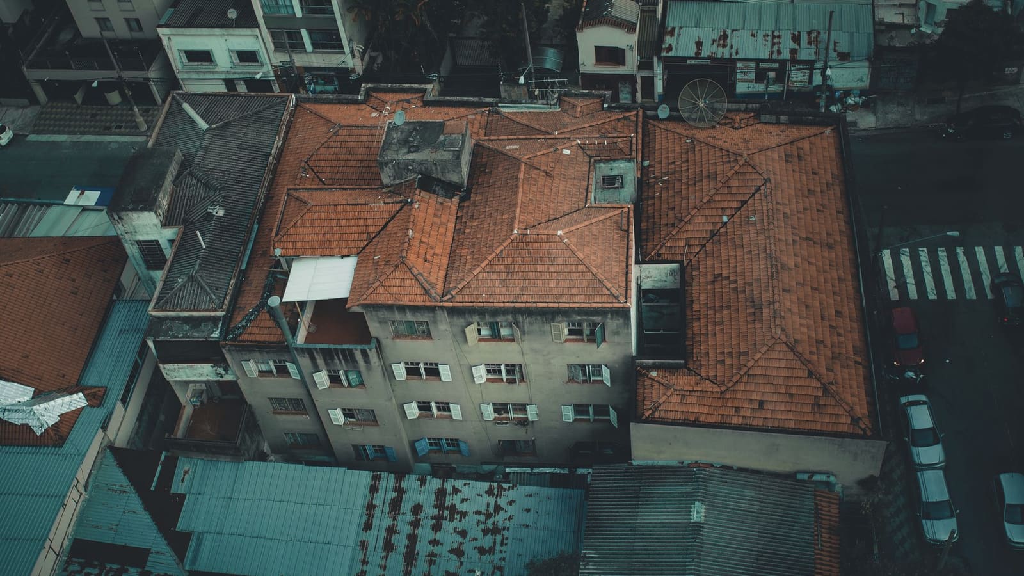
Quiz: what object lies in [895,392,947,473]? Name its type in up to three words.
car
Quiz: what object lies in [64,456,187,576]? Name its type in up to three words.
shed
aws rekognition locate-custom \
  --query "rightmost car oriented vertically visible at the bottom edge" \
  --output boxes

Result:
[991,472,1024,553]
